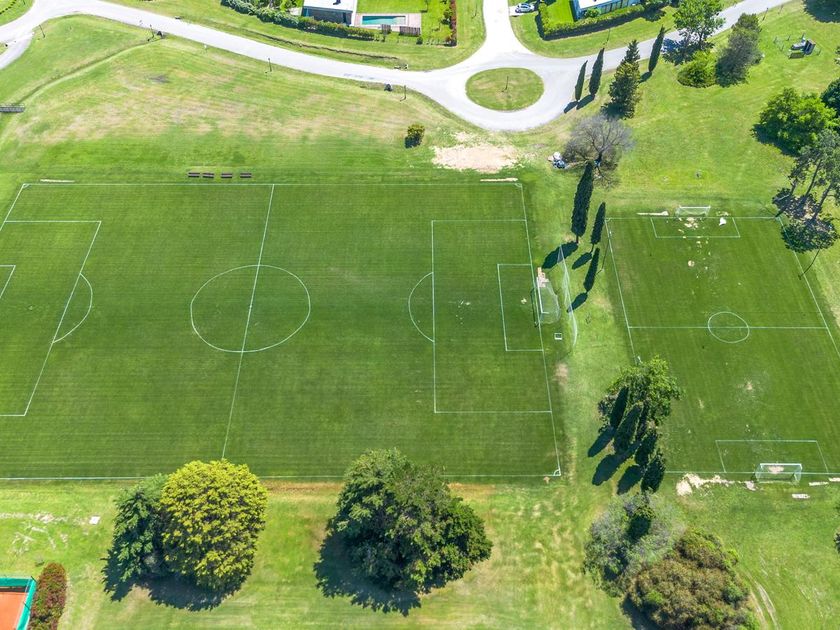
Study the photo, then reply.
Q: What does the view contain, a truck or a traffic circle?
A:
traffic circle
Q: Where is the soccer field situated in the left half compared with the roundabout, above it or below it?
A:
below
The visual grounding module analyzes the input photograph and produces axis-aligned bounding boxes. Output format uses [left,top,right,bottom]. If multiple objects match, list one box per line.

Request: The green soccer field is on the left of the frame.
[0,182,571,483]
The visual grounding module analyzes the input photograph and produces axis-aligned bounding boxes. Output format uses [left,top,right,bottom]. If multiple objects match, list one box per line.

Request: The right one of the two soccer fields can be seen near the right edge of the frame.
[602,214,840,491]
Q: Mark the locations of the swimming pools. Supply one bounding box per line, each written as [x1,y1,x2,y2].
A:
[355,13,421,32]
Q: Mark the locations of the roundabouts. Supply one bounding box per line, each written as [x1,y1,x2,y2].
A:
[441,55,568,126]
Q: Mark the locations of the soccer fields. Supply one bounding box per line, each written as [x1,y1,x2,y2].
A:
[602,214,840,491]
[0,182,571,483]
